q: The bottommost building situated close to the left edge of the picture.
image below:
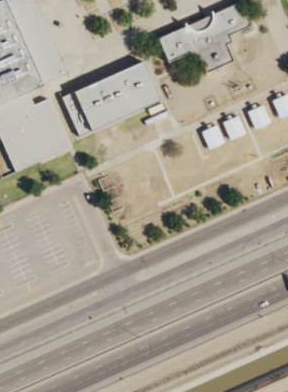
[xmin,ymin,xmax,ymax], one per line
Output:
[0,90,70,172]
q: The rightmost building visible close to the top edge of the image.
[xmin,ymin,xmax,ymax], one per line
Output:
[160,4,250,72]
